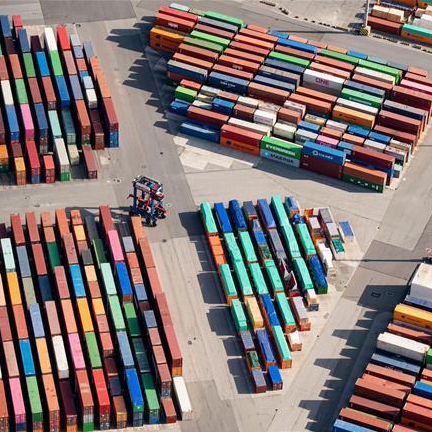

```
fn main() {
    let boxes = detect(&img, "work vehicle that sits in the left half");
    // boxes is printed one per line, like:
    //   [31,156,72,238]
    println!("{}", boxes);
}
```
[133,170,169,227]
